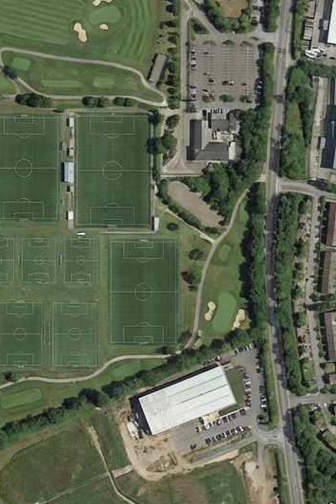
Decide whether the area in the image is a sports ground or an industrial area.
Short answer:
sports ground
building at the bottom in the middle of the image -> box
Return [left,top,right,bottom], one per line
[139,366,236,436]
